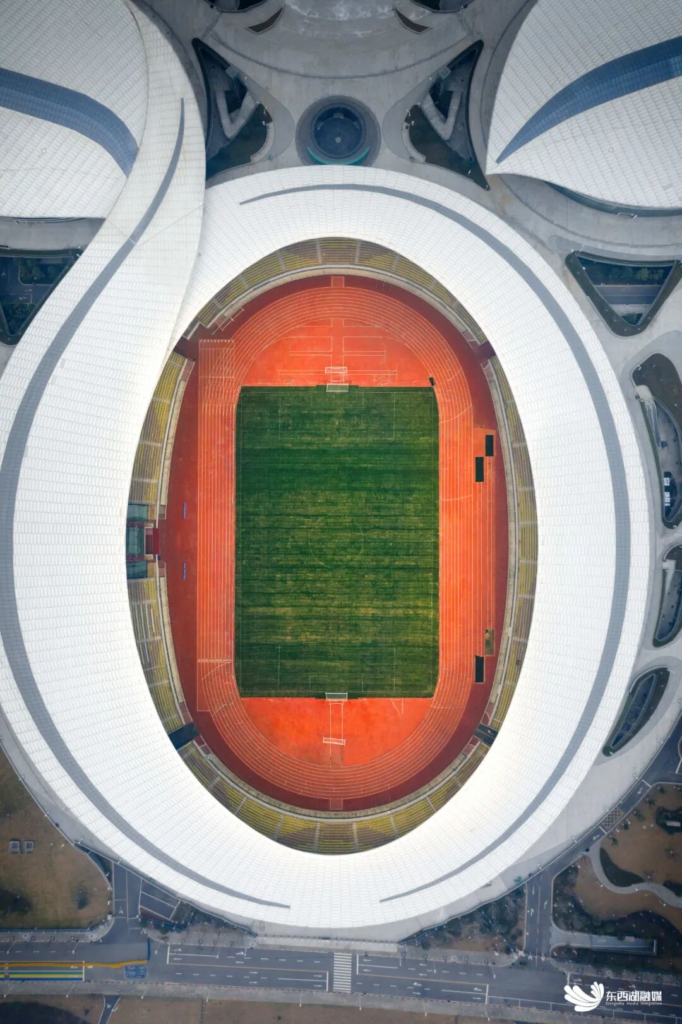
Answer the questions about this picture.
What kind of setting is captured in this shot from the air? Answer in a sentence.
It's a sports ground.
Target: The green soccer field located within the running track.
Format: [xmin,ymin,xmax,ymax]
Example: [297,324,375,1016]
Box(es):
[236,384,439,699]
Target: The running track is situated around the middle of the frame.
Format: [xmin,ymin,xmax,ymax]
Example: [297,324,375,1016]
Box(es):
[128,267,517,817]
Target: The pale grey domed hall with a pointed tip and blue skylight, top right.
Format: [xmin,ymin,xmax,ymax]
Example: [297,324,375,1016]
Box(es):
[486,0,682,217]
